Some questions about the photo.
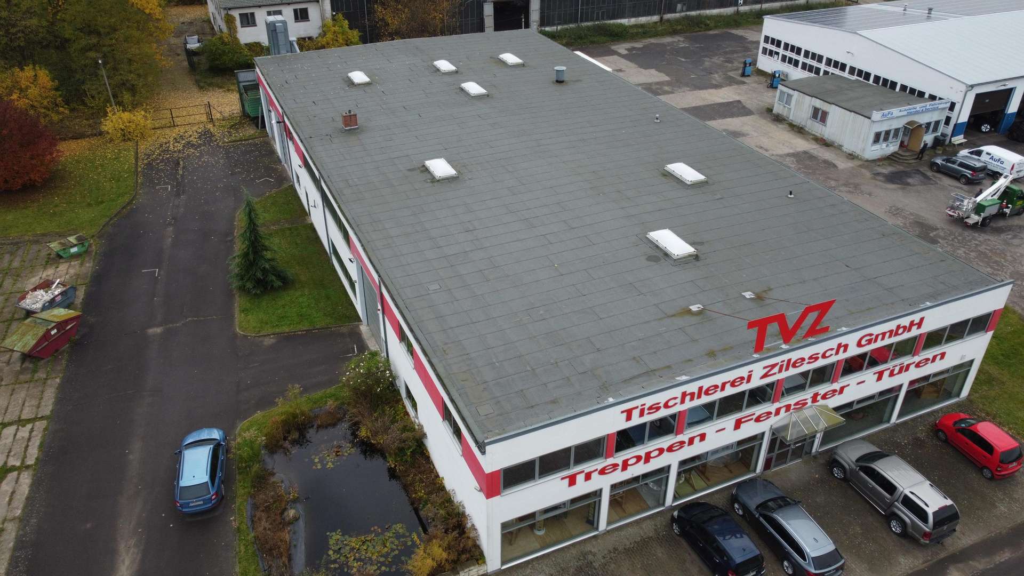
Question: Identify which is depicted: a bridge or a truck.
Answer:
truck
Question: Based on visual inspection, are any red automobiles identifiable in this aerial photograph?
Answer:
Yes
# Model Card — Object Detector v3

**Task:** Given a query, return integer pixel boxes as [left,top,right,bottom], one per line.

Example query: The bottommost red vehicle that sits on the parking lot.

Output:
[941,417,1024,485]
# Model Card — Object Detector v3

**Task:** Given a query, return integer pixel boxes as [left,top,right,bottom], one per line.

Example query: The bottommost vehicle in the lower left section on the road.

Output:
[169,427,227,521]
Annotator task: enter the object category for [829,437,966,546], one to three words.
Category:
truck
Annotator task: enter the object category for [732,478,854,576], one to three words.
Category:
car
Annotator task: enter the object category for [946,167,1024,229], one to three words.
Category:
truck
